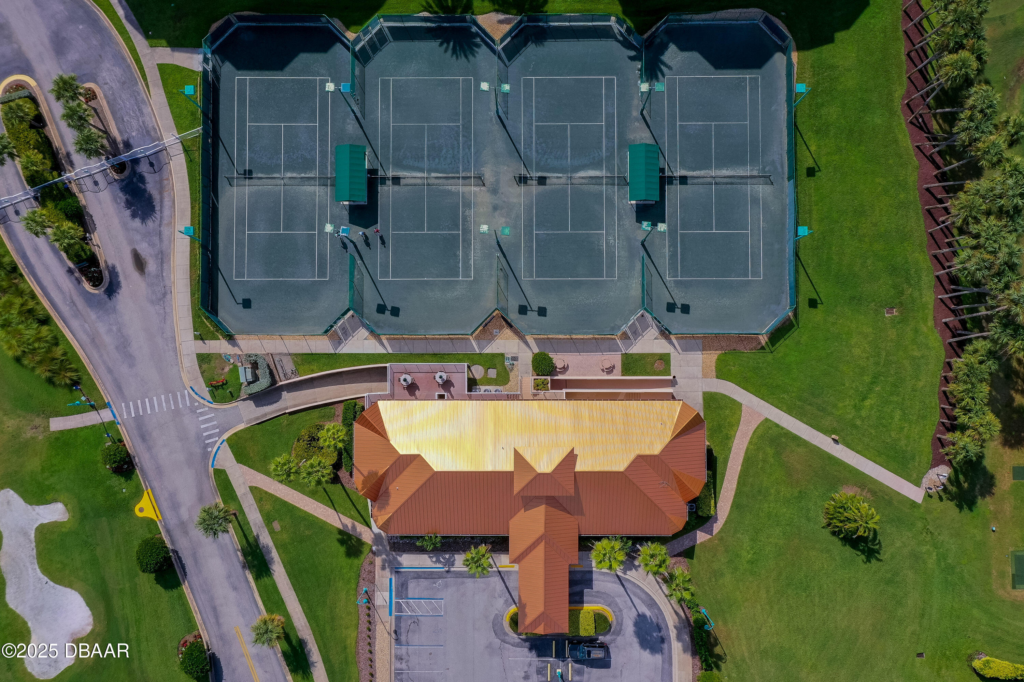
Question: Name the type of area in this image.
sports ground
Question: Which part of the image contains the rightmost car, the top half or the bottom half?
bottom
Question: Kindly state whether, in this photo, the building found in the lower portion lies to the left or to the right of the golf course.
to the right of it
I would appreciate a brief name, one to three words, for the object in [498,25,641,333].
tennis court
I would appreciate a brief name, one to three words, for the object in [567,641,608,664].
car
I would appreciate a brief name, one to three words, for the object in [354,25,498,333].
tennis court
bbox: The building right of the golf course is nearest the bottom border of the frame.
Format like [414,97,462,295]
[353,398,707,635]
